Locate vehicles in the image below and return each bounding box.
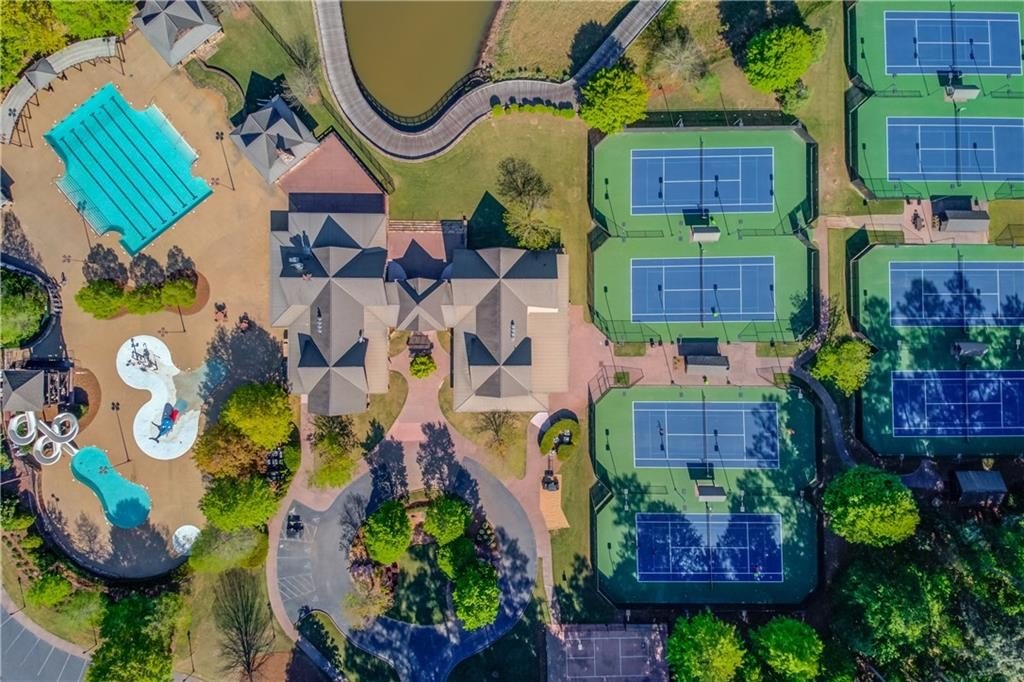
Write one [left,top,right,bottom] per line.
[285,526,304,538]
[542,454,557,490]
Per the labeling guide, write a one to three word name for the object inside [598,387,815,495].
tennis court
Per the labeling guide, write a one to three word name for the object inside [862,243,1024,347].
tennis court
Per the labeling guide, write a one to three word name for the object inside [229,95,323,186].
building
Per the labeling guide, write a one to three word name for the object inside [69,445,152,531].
swimming pool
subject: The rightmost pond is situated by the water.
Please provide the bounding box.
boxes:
[341,0,497,134]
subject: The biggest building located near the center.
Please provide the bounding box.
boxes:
[271,213,569,416]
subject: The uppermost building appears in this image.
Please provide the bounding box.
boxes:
[132,0,227,72]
